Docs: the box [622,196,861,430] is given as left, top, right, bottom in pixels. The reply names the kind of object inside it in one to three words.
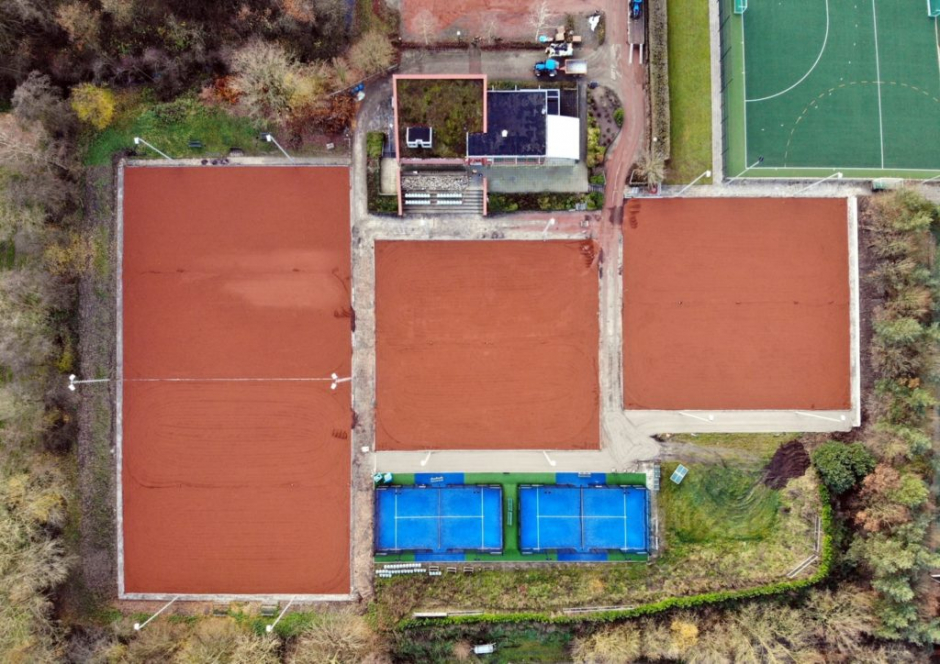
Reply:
sports court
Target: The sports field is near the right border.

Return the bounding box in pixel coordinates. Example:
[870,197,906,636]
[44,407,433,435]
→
[722,0,940,179]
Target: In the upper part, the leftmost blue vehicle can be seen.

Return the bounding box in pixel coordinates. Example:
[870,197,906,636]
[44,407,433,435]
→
[529,60,555,78]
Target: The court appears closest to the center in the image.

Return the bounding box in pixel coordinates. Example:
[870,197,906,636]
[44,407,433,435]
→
[374,240,601,451]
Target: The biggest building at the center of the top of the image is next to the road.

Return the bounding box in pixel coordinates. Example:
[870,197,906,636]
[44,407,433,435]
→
[394,75,578,218]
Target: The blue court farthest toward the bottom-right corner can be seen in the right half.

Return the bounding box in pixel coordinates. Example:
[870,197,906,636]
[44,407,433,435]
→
[521,486,653,557]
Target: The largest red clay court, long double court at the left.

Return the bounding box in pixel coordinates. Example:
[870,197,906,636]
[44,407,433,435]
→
[116,163,356,602]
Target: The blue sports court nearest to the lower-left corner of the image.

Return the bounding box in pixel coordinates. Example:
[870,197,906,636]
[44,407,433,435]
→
[373,486,503,557]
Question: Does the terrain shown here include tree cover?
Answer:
Yes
